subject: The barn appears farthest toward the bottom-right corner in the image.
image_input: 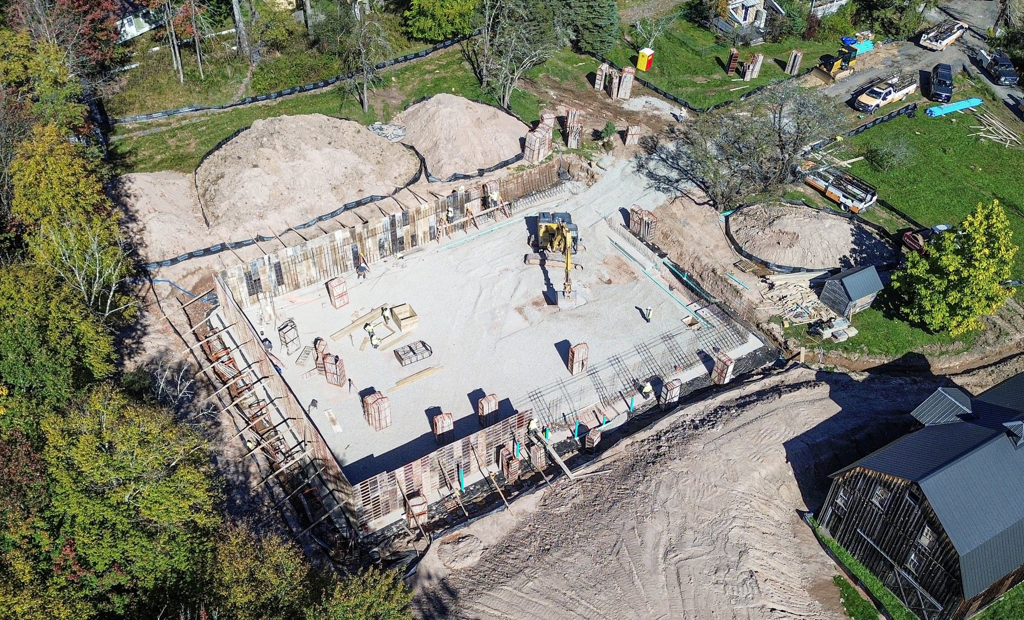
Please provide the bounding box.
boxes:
[818,361,1024,620]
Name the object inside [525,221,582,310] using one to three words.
work vehicle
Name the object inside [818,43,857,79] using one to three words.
work vehicle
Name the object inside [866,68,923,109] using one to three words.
truck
